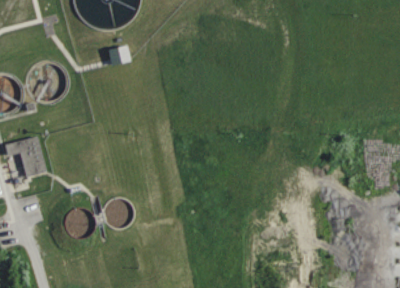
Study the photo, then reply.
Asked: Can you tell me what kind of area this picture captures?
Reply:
industrial area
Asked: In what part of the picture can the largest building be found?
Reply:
left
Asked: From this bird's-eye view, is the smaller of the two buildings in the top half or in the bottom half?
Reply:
top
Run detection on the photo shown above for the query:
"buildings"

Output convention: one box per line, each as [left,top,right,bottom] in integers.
[4,136,46,178]
[104,44,131,66]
